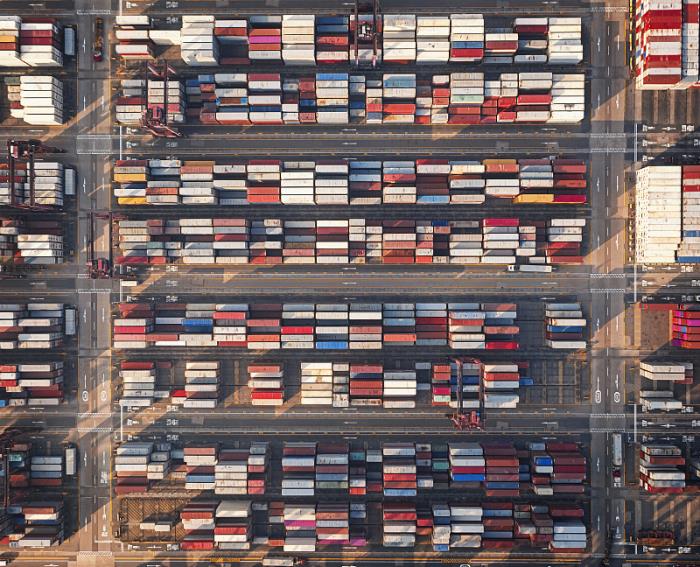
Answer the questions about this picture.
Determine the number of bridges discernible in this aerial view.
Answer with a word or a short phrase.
zero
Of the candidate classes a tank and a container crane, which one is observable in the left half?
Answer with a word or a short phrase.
container crane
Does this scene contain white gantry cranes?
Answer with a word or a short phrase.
No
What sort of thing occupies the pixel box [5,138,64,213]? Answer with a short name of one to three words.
container crane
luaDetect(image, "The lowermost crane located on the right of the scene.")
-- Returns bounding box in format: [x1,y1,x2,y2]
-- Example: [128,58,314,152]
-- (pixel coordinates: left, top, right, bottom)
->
[445,356,484,429]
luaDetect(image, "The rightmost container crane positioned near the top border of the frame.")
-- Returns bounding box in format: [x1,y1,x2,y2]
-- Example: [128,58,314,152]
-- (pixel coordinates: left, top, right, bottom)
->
[347,0,382,71]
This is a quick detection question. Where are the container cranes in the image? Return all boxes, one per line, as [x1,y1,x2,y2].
[445,356,484,429]
[347,0,382,71]
[84,209,137,279]
[5,138,64,213]
[139,58,188,137]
